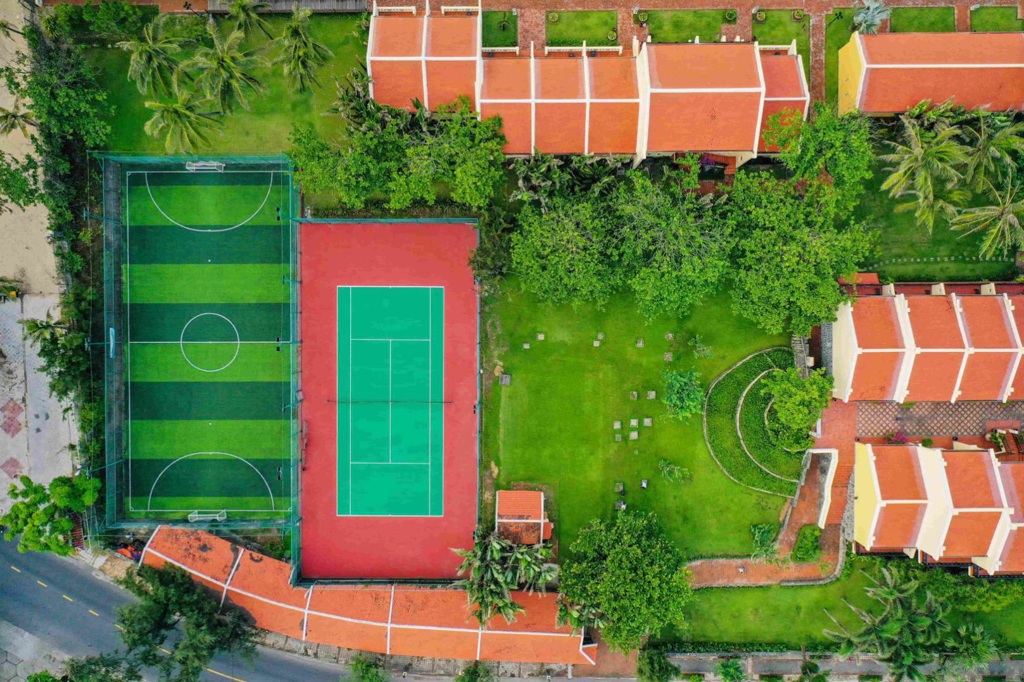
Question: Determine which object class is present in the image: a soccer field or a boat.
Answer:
soccer field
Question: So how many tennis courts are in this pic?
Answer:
1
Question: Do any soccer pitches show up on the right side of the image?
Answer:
No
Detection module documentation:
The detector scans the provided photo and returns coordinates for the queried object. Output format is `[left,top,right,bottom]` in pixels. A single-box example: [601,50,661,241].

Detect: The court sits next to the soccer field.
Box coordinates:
[302,223,477,578]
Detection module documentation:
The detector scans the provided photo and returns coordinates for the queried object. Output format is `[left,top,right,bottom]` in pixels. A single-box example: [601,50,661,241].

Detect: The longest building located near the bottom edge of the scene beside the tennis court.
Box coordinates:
[137,526,597,666]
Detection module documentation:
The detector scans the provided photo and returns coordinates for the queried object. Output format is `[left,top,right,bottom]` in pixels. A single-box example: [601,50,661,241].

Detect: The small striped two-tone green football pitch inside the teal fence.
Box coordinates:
[122,167,301,518]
